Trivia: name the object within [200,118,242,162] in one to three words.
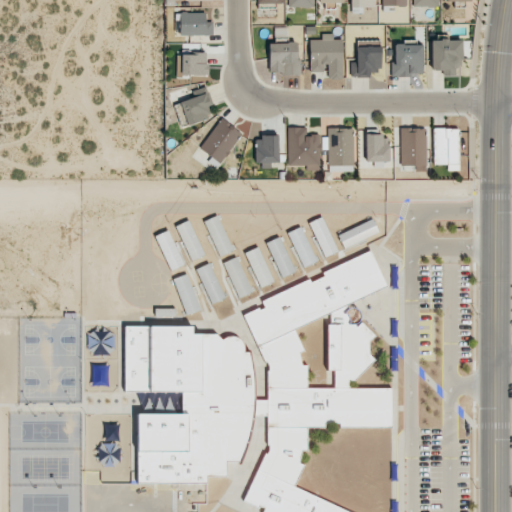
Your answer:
house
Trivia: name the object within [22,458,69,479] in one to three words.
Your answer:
sports court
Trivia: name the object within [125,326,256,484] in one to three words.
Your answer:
building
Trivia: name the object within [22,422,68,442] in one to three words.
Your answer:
sports court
